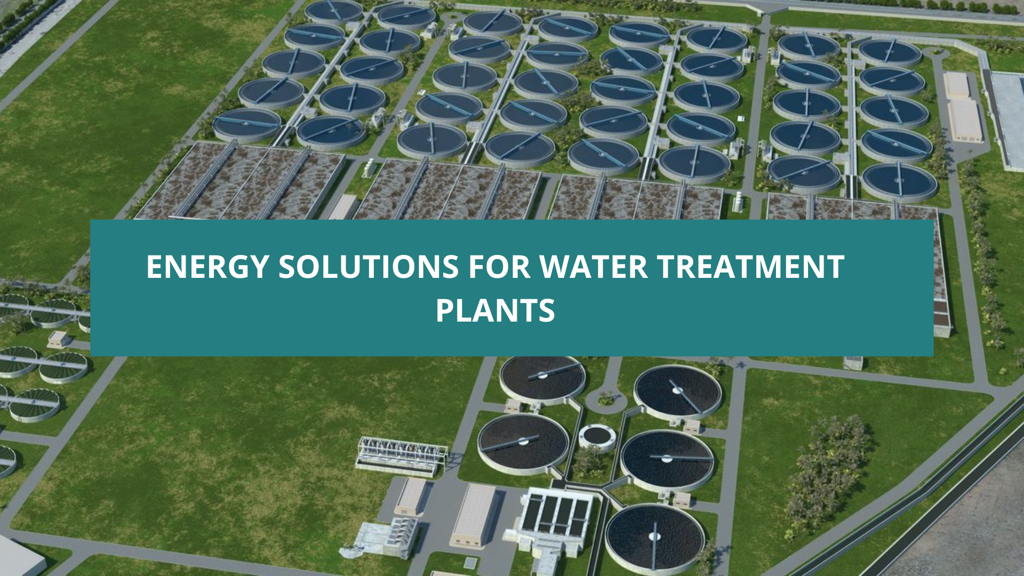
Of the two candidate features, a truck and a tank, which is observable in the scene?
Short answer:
tank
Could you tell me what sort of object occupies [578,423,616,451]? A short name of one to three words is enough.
storage tank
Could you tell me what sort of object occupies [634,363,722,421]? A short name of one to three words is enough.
storage tank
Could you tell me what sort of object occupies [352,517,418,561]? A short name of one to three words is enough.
house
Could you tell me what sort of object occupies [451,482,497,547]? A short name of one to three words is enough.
building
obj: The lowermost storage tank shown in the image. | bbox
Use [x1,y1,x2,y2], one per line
[605,501,706,576]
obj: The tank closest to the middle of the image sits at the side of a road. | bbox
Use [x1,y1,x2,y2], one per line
[500,350,586,406]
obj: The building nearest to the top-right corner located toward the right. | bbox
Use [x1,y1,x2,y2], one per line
[942,71,970,102]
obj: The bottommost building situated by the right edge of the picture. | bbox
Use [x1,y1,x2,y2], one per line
[947,99,983,145]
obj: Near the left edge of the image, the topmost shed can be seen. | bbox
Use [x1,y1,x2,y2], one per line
[46,329,70,349]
